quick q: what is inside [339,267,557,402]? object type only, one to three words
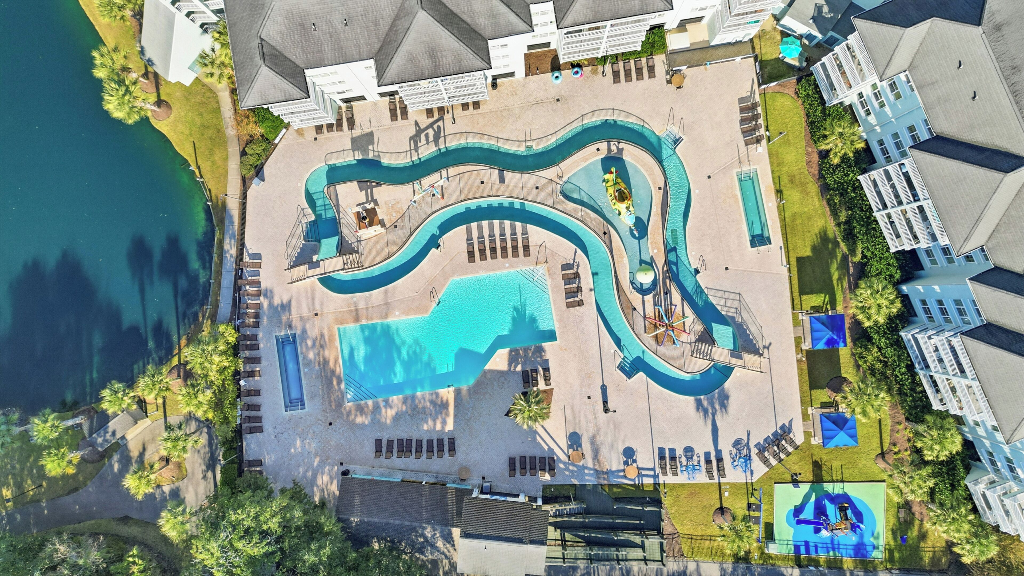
swimming pool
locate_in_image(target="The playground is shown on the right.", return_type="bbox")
[797,499,862,543]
